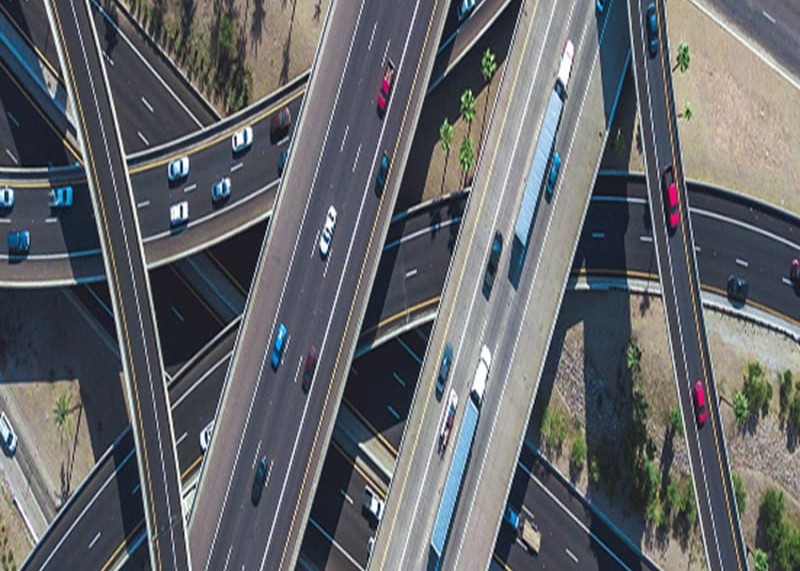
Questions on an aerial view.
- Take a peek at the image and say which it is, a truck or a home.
truck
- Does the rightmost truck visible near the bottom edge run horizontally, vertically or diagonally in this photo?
diagonally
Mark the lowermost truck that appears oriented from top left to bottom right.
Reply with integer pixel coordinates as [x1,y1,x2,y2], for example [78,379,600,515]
[504,501,538,551]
